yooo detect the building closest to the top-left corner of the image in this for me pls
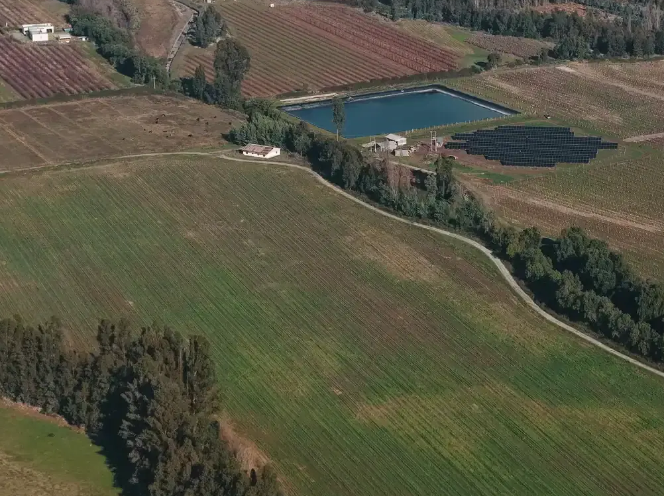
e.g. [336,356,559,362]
[21,19,59,41]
